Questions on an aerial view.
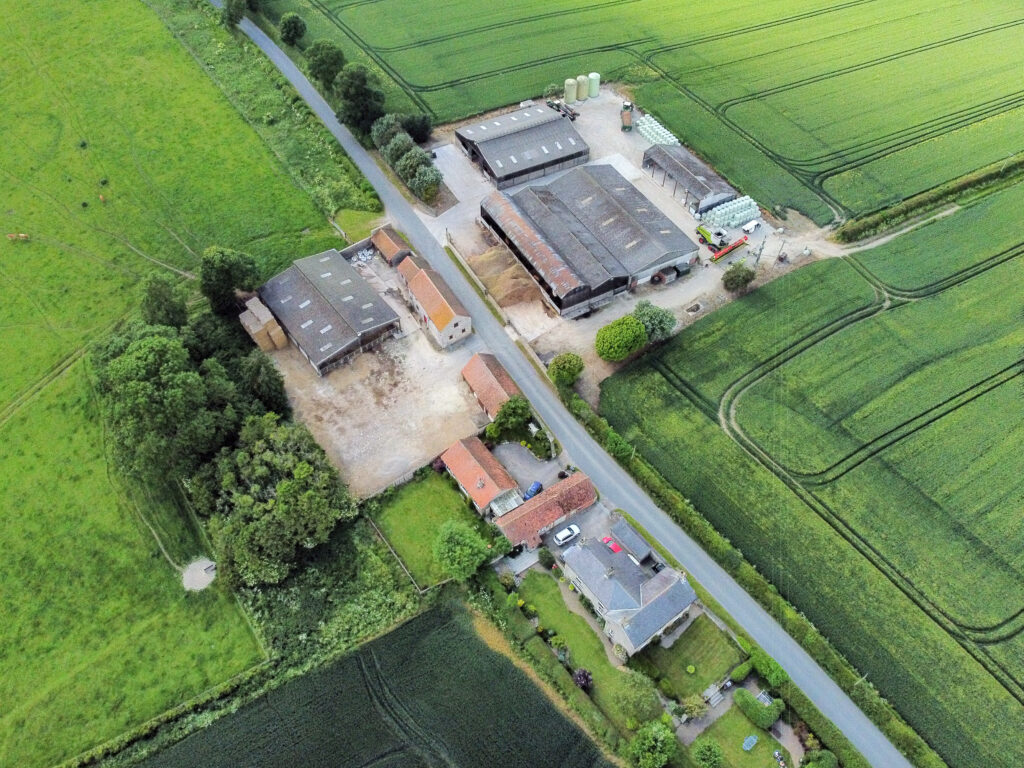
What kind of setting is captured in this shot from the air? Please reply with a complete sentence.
The area seen from above is farmland.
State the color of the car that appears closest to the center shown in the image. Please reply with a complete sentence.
From above, the car that appears closest to the center appears blue.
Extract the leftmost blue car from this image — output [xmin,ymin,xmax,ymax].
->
[522,477,544,502]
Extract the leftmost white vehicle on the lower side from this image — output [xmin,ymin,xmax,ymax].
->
[552,525,581,548]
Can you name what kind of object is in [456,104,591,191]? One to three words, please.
shed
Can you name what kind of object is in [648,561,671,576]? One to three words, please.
car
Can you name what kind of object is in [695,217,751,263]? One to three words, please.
work vehicle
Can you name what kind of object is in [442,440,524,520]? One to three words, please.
house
